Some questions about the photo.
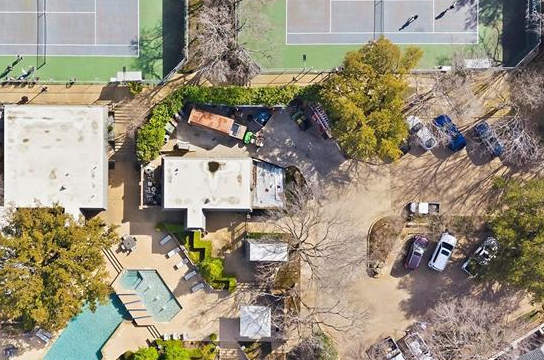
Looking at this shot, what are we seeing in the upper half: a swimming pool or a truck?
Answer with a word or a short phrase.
truck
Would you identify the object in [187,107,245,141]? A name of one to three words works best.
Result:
truck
